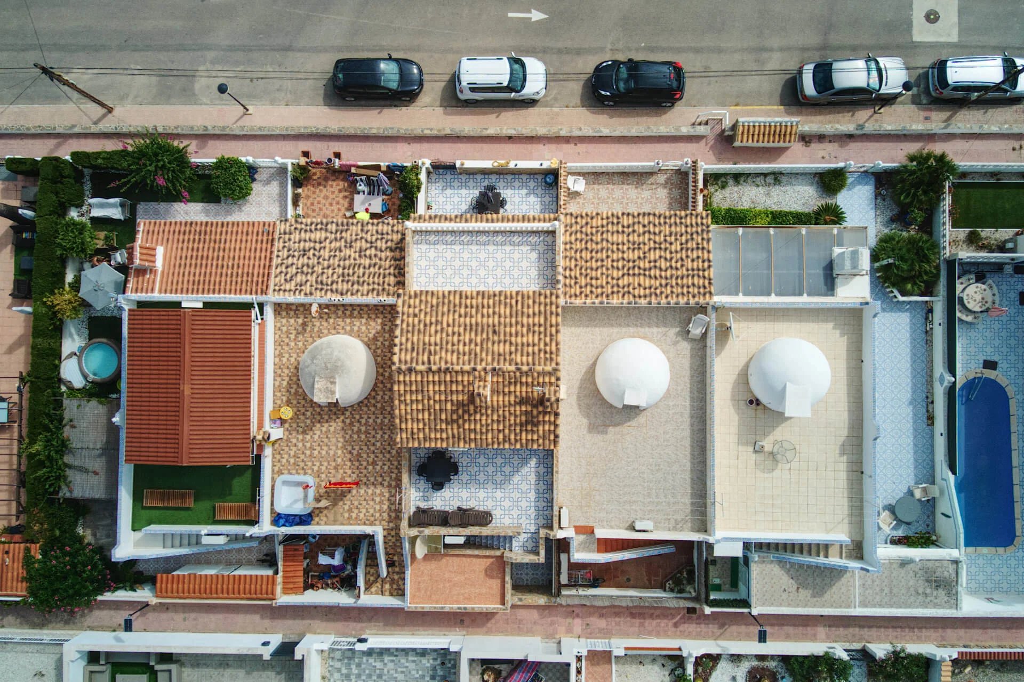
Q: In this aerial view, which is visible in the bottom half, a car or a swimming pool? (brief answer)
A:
swimming pool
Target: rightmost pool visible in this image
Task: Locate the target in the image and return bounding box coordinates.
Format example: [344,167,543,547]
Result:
[948,376,1016,554]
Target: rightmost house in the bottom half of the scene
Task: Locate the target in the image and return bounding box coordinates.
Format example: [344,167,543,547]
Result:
[710,302,963,616]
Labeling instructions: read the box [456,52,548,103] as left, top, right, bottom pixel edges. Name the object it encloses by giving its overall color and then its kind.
white car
